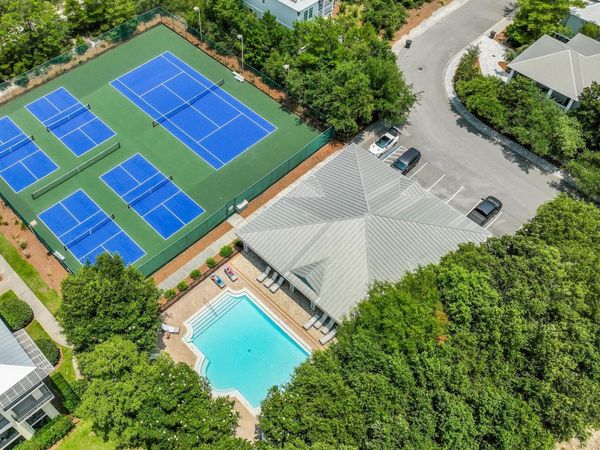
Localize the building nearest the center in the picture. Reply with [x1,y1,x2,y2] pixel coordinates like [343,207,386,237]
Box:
[236,146,493,327]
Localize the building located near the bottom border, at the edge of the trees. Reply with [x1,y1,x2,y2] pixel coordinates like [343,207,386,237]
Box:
[0,321,59,444]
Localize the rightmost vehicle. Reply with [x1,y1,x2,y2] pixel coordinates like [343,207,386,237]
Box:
[466,195,503,229]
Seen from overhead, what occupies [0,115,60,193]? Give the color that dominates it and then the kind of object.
blue sports court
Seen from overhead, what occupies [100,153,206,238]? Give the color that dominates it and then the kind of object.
blue sports court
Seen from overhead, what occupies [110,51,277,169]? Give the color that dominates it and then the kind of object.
blue tennis court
